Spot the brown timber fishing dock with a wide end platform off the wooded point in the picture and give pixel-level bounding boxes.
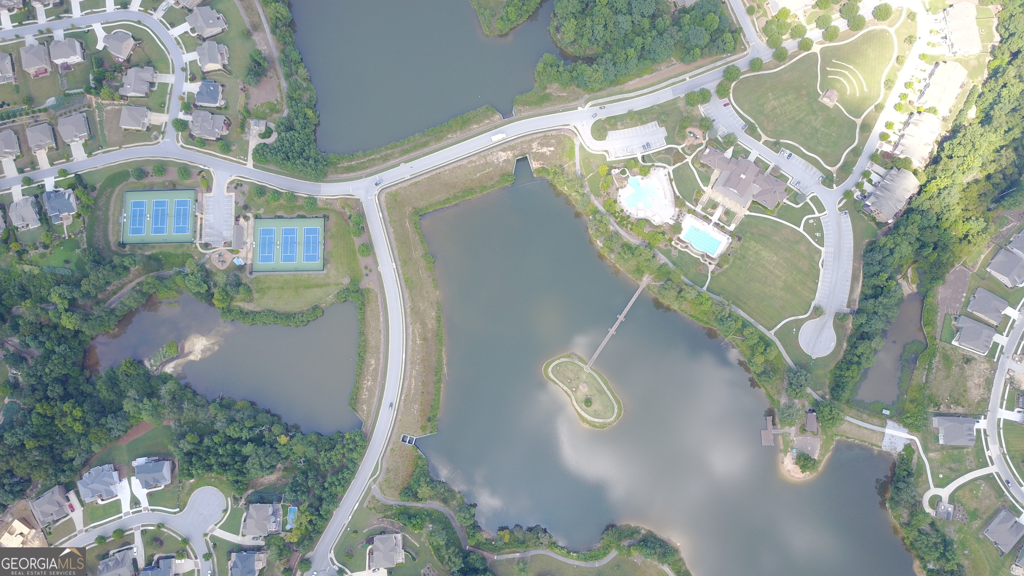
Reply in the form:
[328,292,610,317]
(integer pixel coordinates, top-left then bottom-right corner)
[760,416,795,445]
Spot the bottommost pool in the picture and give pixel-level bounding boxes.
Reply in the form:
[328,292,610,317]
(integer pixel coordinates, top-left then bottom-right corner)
[285,505,299,530]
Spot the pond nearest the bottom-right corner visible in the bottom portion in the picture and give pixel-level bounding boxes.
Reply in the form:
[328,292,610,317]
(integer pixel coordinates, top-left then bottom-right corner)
[852,292,929,406]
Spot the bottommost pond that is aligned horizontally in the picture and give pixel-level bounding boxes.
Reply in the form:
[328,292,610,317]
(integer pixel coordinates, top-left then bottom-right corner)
[83,289,364,436]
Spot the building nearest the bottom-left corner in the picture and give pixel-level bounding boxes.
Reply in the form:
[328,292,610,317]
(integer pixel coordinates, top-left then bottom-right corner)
[0,519,31,555]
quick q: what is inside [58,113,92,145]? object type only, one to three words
house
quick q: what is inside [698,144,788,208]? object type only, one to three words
building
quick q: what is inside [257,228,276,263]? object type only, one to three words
tennis court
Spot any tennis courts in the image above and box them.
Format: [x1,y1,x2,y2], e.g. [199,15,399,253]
[173,199,191,234]
[257,228,276,263]
[303,227,321,262]
[151,200,169,235]
[129,200,147,235]
[280,228,298,263]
